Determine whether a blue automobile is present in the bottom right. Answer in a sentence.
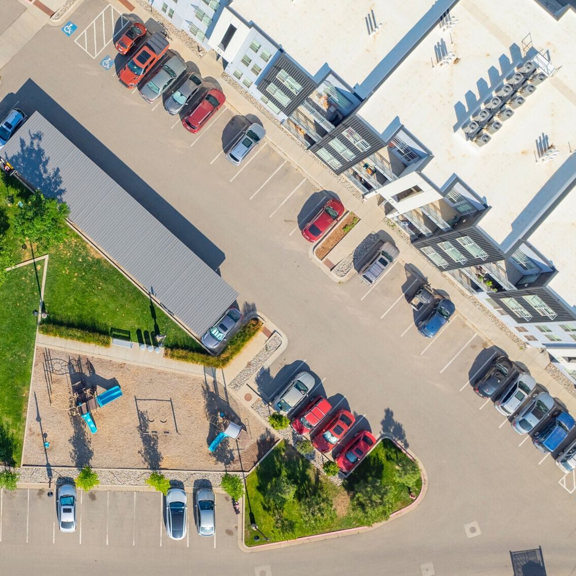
Yes, the scene does show a blue automobile in the bottom right.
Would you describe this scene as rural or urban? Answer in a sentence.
The area shown here is urban.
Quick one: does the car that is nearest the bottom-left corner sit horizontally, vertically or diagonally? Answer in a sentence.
The car that is nearest the bottom-left corner runs vertically in the image.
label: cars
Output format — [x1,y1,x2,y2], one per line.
[140,55,187,105]
[0,105,30,150]
[299,198,345,245]
[289,391,336,438]
[489,372,536,418]
[179,87,226,137]
[310,407,358,455]
[198,304,246,352]
[355,242,400,286]
[194,486,217,536]
[162,70,206,117]
[528,408,576,456]
[469,354,515,401]
[549,430,576,475]
[403,279,440,317]
[56,483,78,532]
[164,487,190,539]
[332,427,378,474]
[223,123,265,167]
[508,389,554,436]
[268,369,315,418]
[412,296,456,341]
[110,19,150,61]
